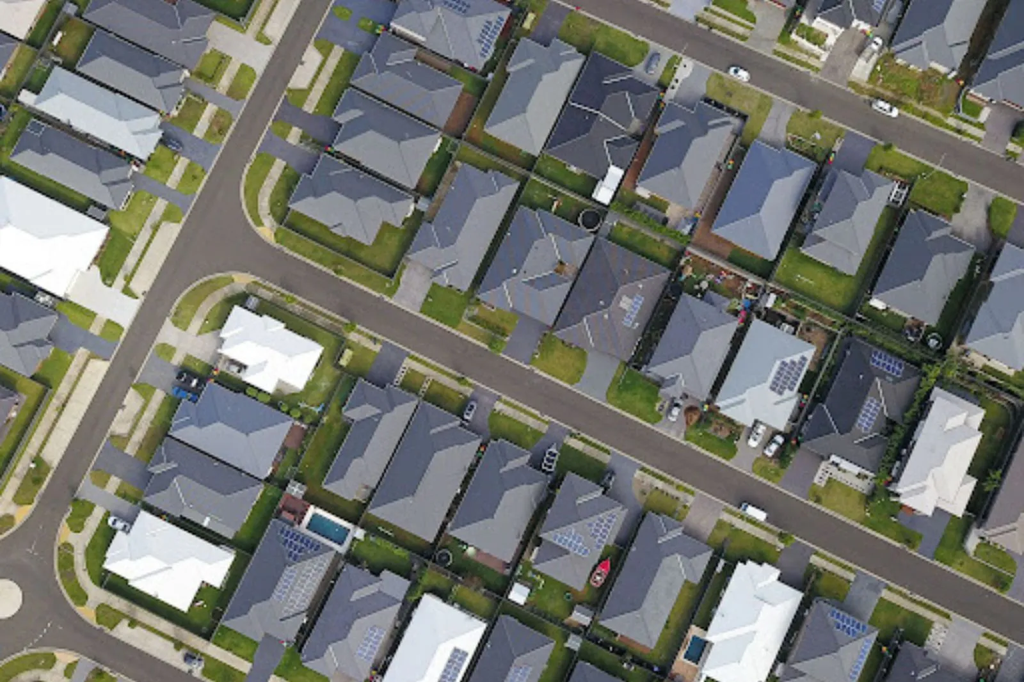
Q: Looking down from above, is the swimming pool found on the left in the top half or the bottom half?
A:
bottom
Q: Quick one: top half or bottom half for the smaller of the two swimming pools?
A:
bottom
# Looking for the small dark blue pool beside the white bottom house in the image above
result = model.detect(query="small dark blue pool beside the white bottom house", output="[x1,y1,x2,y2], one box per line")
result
[681,632,711,668]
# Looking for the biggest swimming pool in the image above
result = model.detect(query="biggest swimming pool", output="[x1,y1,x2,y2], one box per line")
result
[299,505,356,554]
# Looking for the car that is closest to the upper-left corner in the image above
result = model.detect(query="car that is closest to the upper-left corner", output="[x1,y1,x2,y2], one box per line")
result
[162,133,184,152]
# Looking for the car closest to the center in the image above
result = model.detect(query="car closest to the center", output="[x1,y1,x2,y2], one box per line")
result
[462,399,478,423]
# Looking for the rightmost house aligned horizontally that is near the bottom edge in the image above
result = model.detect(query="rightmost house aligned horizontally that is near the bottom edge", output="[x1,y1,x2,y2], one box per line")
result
[880,642,977,682]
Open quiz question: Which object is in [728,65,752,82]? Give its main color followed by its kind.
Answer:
white car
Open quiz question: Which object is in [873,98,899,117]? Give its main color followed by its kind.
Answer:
white car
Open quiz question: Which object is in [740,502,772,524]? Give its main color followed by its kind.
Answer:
white truck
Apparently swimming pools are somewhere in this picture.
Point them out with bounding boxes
[681,632,711,668]
[299,505,356,554]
